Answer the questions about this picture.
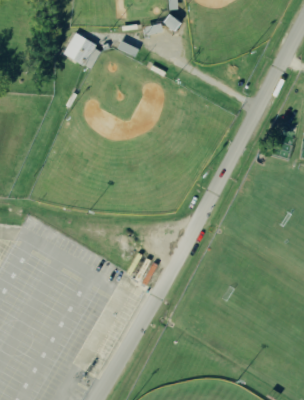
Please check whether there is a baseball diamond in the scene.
Yes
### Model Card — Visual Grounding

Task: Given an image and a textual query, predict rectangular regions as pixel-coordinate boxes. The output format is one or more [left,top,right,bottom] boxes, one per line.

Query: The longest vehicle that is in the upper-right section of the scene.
[271,78,284,98]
